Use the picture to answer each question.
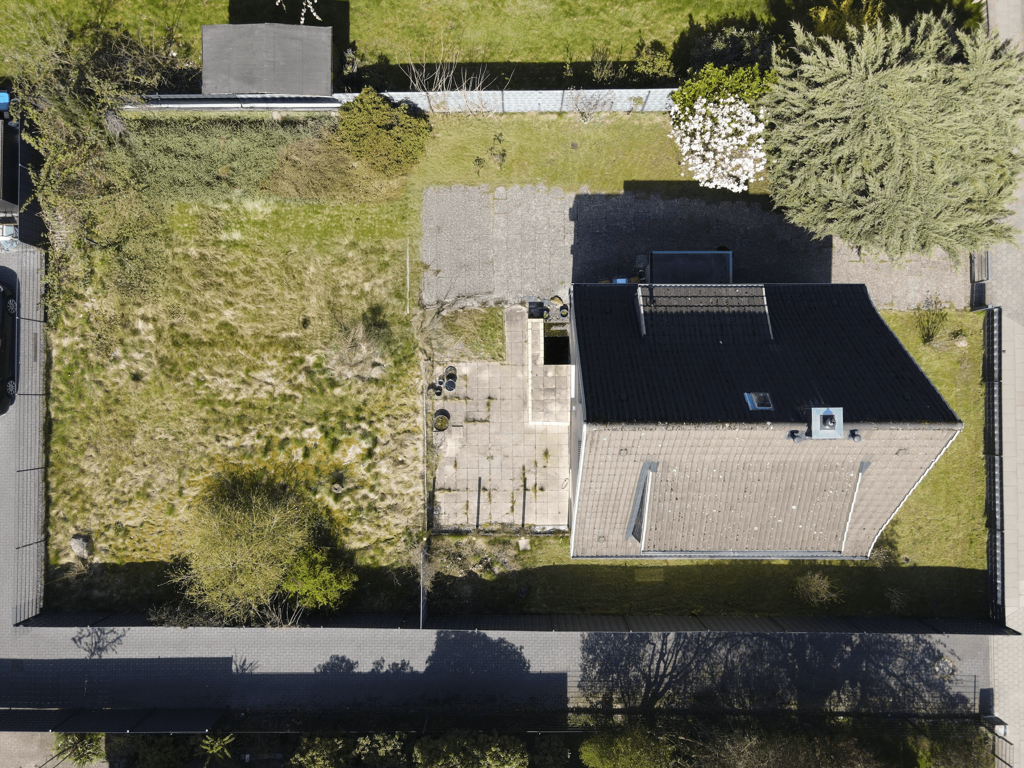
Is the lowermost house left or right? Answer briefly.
right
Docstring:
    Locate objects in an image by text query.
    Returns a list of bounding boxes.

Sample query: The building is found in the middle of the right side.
[565,252,968,561]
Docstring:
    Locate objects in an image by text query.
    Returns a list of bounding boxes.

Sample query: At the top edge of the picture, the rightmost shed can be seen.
[201,24,345,99]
